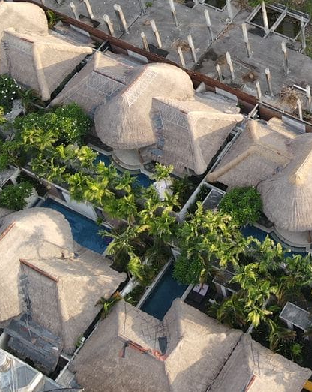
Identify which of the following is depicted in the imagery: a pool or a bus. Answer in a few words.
pool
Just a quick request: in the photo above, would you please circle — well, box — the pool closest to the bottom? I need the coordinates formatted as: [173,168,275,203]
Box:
[134,258,202,322]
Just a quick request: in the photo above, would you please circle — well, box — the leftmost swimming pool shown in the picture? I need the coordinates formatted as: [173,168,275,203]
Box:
[36,195,107,257]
